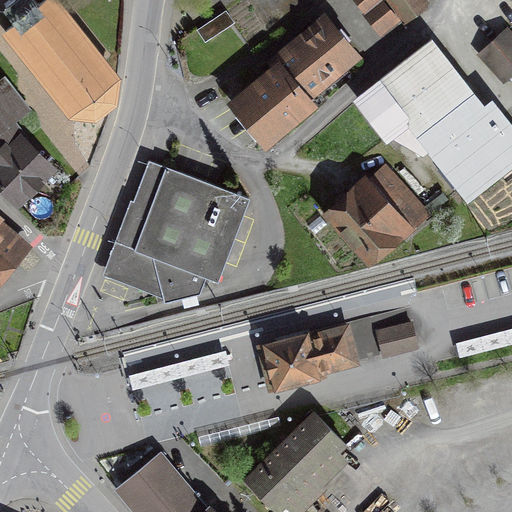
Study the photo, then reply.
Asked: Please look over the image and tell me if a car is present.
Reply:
Yes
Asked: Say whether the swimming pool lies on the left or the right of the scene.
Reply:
left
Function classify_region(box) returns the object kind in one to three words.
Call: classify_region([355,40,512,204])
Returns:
warehouse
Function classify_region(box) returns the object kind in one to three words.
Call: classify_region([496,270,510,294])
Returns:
car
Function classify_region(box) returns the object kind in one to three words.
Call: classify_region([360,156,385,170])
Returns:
car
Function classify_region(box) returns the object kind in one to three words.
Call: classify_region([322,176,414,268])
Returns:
house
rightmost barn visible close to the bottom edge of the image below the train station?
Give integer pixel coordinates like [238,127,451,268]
[244,412,349,512]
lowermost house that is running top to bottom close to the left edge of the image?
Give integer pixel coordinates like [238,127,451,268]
[0,216,32,285]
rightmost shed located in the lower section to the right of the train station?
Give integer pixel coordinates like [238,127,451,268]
[374,320,418,358]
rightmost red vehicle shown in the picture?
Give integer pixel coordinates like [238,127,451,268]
[462,283,475,308]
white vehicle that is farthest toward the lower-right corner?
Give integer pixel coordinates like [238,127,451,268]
[423,396,442,426]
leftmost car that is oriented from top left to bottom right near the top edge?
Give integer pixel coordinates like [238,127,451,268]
[473,13,494,38]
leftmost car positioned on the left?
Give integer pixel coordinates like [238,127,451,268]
[172,448,185,468]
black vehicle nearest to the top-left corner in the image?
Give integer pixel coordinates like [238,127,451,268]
[195,90,218,106]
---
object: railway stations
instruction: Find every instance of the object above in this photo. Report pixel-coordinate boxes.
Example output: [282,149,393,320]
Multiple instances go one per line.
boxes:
[258,324,360,394]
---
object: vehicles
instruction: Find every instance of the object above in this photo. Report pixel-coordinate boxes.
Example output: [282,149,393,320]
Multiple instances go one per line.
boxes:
[172,448,185,468]
[473,13,494,38]
[230,120,245,133]
[496,270,510,294]
[462,283,475,308]
[195,90,218,106]
[423,396,442,426]
[496,0,512,26]
[360,156,385,170]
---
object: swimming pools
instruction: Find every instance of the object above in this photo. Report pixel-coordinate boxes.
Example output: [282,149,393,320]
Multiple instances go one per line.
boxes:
[30,196,53,220]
